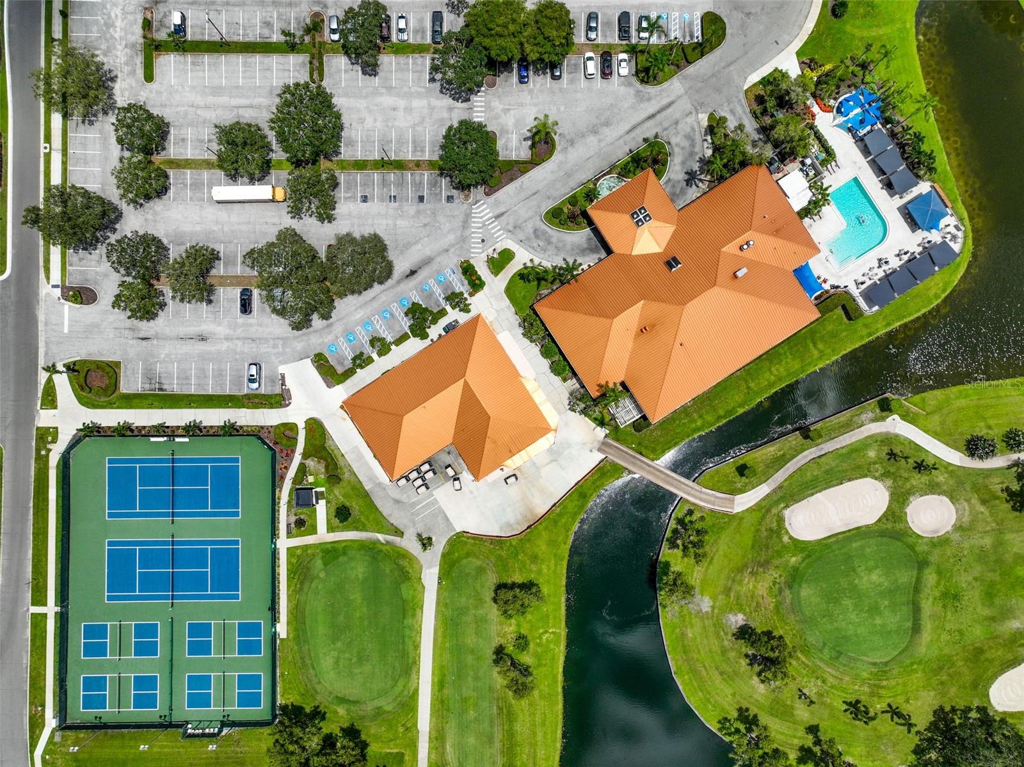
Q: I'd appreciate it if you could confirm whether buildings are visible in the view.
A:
Yes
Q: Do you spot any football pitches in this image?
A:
No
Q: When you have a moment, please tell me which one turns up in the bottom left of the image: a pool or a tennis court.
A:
tennis court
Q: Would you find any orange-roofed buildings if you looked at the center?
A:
Yes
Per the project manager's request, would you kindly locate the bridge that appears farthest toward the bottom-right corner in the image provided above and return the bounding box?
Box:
[598,437,735,514]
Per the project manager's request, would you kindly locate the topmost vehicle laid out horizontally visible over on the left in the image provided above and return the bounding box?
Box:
[209,184,284,204]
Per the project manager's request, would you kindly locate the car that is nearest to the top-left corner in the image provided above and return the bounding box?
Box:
[173,13,187,37]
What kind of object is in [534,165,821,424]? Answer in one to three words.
building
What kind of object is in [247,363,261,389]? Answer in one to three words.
car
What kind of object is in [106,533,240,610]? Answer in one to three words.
tennis court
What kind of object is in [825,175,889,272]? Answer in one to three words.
swimming pool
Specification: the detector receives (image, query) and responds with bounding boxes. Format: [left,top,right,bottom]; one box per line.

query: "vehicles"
[384,14,392,43]
[453,477,462,490]
[407,467,421,479]
[396,15,409,42]
[600,51,613,79]
[209,184,284,204]
[173,13,187,37]
[586,12,599,41]
[417,482,431,495]
[431,10,444,45]
[517,58,530,86]
[424,467,438,480]
[239,288,253,315]
[327,14,341,43]
[616,51,629,79]
[444,462,457,476]
[412,474,427,487]
[550,56,563,84]
[583,51,596,79]
[396,475,411,487]
[420,460,433,473]
[247,363,261,389]
[638,14,649,42]
[618,11,631,41]
[505,473,519,485]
